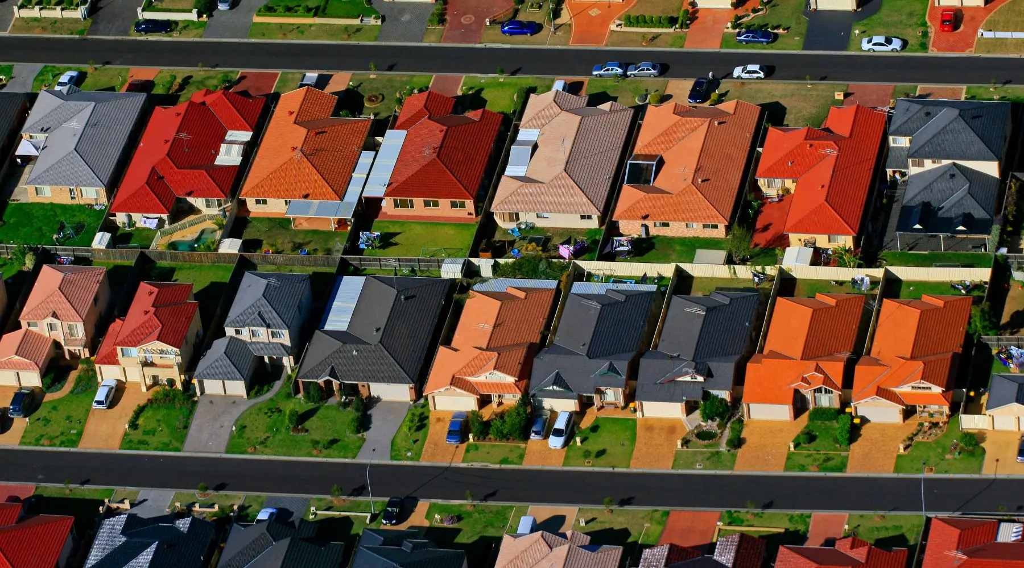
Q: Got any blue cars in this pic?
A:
Yes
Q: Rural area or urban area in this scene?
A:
urban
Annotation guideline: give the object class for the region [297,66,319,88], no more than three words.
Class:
truck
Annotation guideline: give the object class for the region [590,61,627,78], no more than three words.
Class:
car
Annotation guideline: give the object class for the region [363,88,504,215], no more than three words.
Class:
house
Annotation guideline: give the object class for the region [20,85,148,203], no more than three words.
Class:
house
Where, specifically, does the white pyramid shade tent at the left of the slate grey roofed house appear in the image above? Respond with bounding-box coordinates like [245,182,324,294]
[16,140,45,169]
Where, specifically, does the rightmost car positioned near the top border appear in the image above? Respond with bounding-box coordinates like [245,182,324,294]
[938,9,957,30]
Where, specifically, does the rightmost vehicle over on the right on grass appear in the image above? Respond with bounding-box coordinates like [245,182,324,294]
[860,34,903,52]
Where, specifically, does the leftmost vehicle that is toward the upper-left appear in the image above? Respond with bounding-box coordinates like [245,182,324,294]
[49,67,83,90]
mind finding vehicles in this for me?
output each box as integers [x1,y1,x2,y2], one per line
[512,516,536,533]
[500,19,540,36]
[528,414,550,439]
[688,76,710,101]
[380,497,406,528]
[734,28,775,45]
[49,67,83,90]
[819,531,838,546]
[624,62,661,78]
[446,416,468,443]
[250,504,280,523]
[297,66,319,88]
[9,389,34,416]
[92,380,118,408]
[1016,433,1024,461]
[133,16,173,33]
[549,412,574,445]
[938,9,957,30]
[732,63,767,80]
[548,75,569,93]
[860,34,903,52]
[590,61,627,78]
